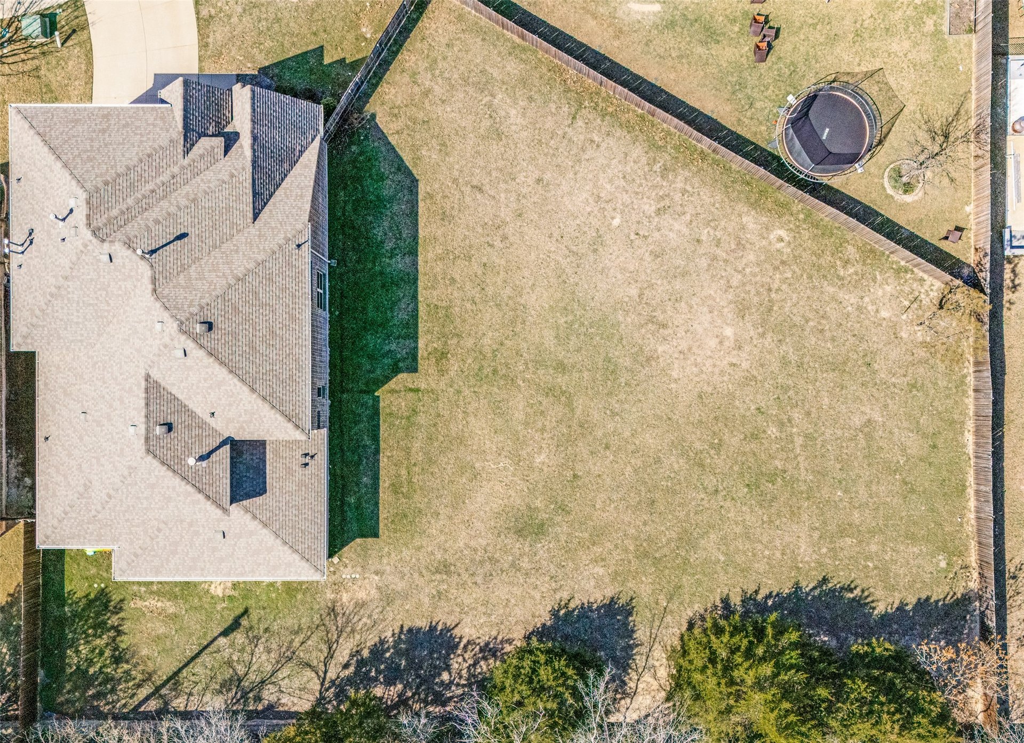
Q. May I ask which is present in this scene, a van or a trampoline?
trampoline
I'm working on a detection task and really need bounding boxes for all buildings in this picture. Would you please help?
[4,78,335,583]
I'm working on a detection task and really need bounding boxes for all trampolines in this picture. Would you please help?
[769,81,887,183]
